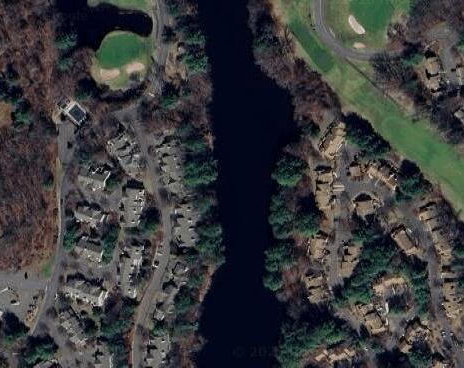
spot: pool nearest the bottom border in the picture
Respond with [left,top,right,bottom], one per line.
[65,102,89,124]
